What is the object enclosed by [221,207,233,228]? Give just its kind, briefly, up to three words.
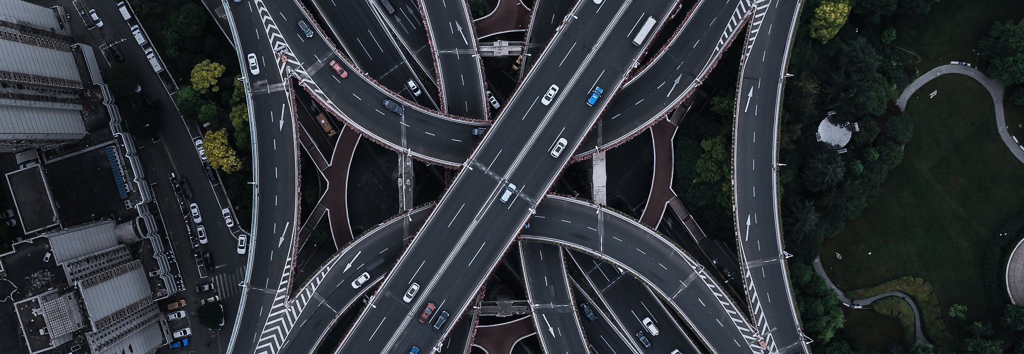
vehicle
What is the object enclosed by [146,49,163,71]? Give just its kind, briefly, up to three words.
vehicle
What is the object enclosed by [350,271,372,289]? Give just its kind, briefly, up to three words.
car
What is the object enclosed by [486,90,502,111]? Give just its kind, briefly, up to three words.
car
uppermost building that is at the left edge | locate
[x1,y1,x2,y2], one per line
[0,0,92,150]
